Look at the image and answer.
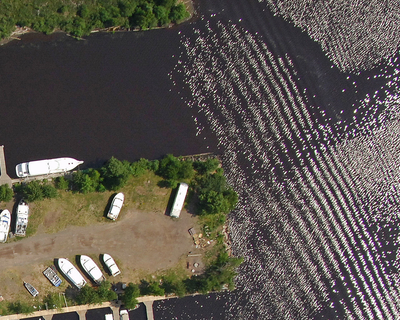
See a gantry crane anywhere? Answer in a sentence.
No, there isn't any gantry crane down there.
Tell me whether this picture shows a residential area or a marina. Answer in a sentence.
The picture captures a marina.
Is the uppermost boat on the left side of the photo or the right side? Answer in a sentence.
It is on the left.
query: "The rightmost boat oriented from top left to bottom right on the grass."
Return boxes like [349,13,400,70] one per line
[104,254,122,276]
